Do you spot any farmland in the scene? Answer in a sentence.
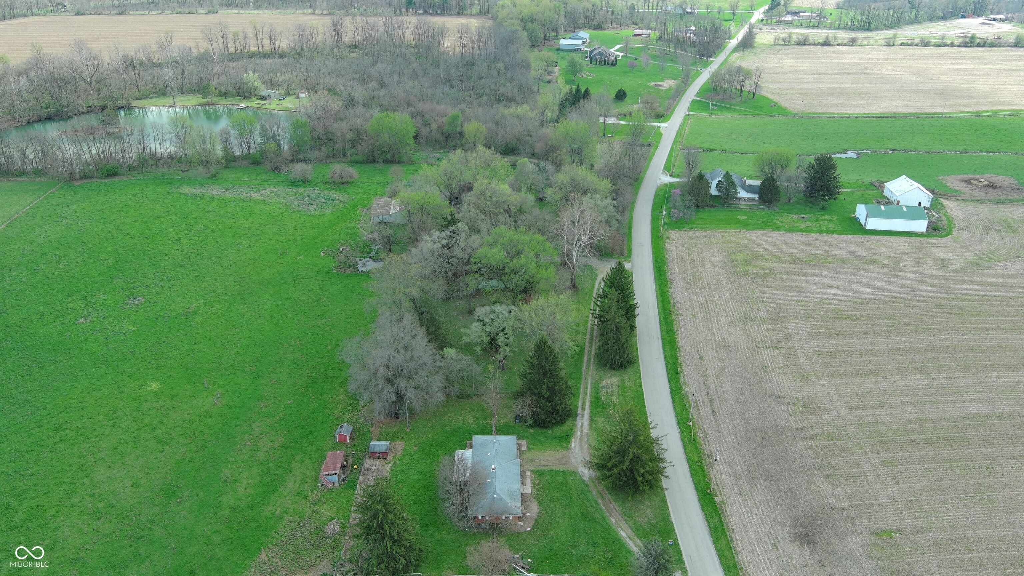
Yes, some farmland is visible.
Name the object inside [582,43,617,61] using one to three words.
house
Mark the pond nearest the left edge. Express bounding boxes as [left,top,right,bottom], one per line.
[0,105,308,164]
